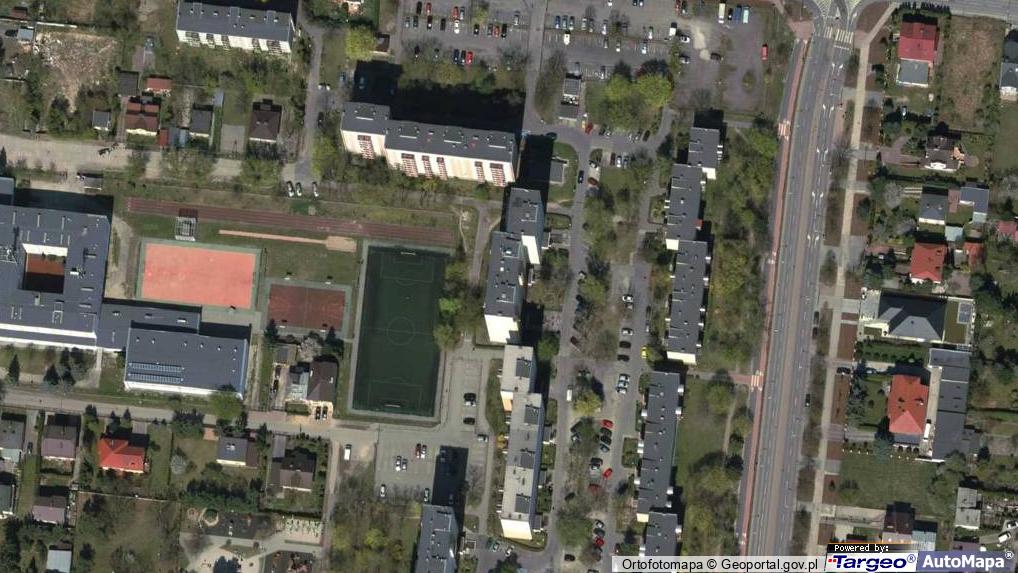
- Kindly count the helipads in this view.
none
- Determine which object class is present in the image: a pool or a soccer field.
soccer field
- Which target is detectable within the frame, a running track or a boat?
running track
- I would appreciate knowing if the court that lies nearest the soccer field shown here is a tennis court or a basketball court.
basketball court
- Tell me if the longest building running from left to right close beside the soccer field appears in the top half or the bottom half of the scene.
top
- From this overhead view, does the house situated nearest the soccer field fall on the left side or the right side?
left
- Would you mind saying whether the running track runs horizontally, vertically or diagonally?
horizontally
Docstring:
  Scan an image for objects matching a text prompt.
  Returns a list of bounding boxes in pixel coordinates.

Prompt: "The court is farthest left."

[136,239,262,312]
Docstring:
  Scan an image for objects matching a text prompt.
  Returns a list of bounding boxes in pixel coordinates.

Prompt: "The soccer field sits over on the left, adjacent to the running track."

[347,240,452,425]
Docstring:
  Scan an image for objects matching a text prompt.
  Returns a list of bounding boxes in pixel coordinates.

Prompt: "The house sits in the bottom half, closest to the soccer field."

[306,361,338,404]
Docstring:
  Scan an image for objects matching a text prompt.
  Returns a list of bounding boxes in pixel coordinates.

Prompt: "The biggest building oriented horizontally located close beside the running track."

[341,101,519,183]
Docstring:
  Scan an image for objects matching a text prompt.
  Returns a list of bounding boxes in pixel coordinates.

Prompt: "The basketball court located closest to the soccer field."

[262,278,353,340]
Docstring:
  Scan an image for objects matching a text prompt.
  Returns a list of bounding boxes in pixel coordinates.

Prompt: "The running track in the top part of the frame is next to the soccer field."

[128,197,454,247]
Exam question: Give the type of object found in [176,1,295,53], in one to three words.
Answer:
building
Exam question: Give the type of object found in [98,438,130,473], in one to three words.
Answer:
house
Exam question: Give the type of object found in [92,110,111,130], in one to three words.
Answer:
house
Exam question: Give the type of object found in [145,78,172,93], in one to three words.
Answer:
shed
